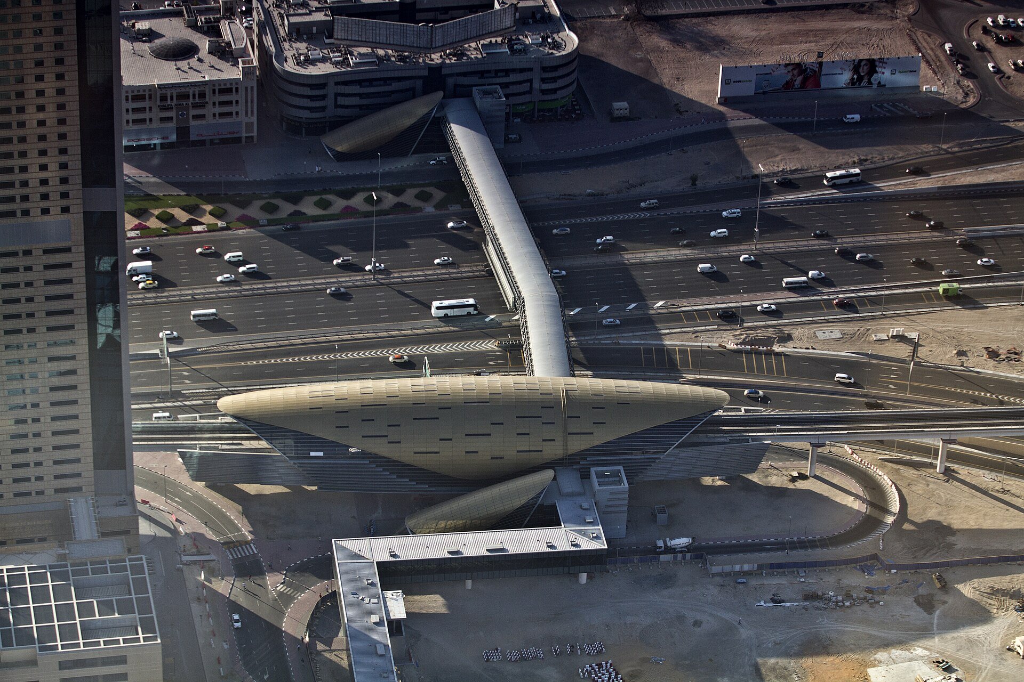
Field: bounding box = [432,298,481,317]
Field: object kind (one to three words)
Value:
vehicle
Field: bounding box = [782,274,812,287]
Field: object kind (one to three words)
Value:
vehicle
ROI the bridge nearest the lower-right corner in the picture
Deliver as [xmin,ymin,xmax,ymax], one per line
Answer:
[673,405,1024,476]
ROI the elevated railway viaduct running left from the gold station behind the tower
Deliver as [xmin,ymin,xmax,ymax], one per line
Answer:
[134,417,268,480]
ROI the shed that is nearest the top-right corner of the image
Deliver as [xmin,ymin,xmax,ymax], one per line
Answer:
[610,98,629,117]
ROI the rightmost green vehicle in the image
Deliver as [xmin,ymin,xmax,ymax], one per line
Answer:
[937,281,963,297]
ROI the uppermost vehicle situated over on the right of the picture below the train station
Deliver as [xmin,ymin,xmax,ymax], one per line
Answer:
[656,533,696,552]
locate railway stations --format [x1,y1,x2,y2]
[176,375,770,505]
